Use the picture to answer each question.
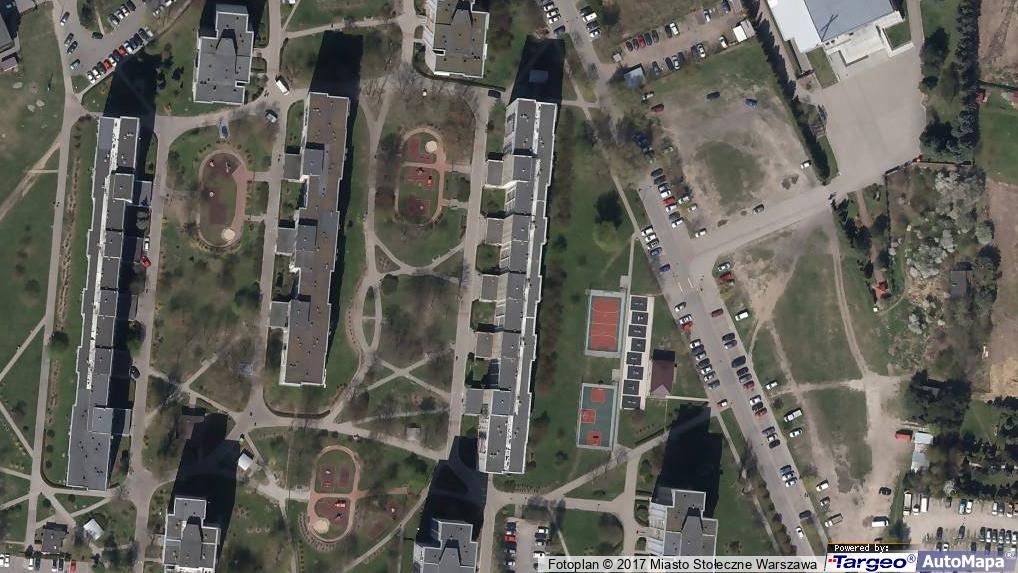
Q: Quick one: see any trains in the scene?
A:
No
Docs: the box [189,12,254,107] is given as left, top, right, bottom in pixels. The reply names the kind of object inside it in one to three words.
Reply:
building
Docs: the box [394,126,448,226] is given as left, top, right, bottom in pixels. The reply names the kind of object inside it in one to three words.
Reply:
playground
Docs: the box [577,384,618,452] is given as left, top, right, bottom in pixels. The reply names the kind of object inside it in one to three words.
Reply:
basketball court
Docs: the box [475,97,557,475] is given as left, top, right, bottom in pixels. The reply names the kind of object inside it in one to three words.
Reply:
building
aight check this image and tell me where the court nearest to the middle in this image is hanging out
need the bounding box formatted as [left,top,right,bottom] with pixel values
[586,290,625,358]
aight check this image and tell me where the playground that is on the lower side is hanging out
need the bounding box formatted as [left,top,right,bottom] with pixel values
[306,447,362,544]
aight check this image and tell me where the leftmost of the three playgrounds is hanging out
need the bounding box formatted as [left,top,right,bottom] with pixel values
[198,148,247,249]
